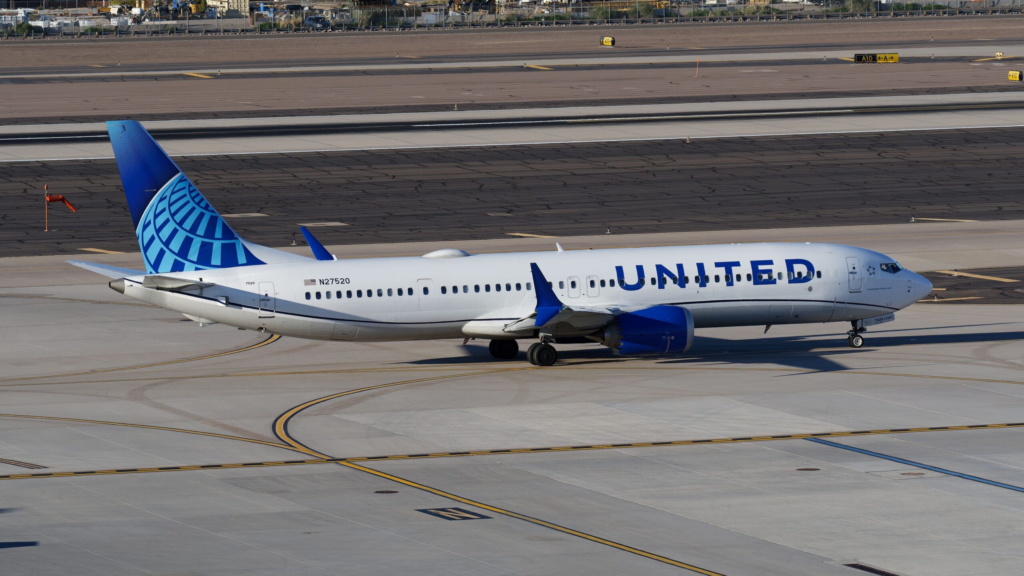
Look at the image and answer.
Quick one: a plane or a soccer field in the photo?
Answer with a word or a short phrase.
plane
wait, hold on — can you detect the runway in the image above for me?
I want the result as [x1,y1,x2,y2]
[0,92,1024,161]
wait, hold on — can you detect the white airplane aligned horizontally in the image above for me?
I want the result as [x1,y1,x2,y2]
[67,120,933,367]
